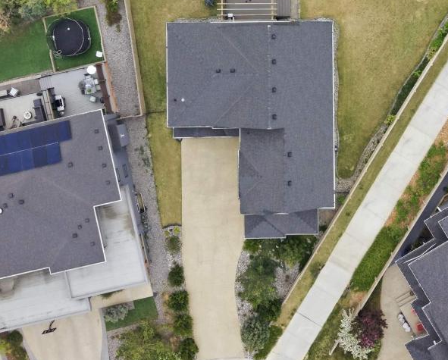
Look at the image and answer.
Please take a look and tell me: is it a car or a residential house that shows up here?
residential house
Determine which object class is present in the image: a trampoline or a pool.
trampoline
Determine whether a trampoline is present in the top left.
Yes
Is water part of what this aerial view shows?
No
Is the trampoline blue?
No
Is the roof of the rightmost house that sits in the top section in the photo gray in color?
Yes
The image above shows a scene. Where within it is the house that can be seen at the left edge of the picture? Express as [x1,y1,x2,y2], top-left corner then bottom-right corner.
[0,99,156,333]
